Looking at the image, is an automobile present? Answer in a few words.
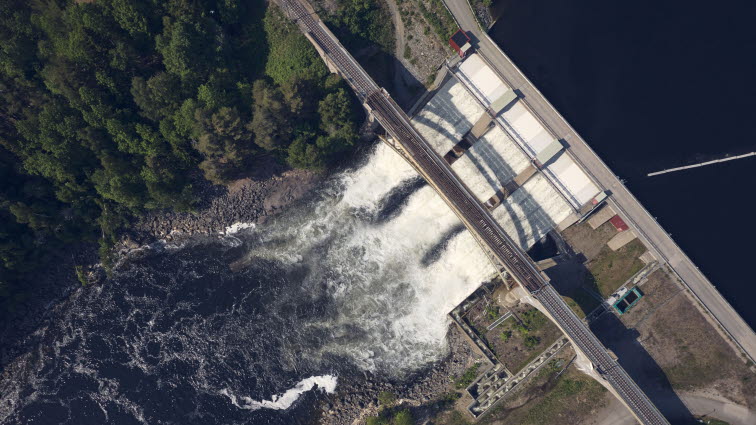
No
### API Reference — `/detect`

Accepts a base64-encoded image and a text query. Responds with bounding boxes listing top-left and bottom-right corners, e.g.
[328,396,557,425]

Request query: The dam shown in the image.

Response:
[405,0,756,373]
